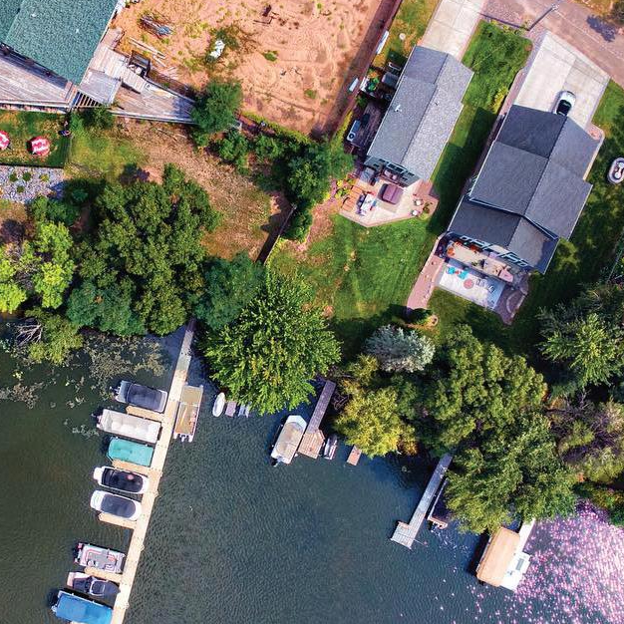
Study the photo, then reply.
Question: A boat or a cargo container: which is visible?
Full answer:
I can see a boat in this picture.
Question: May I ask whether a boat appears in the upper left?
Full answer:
No, the scene shows no boat in the upper left.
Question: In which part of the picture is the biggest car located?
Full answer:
You can find the biggest car in the top right area of the picture.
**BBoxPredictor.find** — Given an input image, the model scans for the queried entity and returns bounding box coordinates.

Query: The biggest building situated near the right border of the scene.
[448,105,605,274]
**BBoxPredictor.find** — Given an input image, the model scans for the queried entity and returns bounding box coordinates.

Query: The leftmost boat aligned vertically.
[175,385,204,440]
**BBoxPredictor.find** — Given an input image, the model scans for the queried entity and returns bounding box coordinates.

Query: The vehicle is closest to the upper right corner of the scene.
[554,90,577,118]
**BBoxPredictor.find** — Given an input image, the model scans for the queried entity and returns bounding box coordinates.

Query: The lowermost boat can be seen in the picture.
[54,595,114,624]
